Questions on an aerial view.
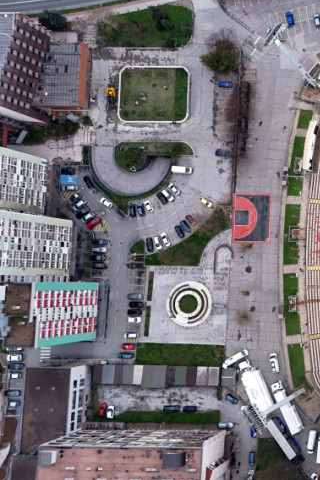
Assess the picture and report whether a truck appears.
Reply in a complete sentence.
Yes, there's a truck down there.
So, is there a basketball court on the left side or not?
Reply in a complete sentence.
No, no basketball court is visible on the left side.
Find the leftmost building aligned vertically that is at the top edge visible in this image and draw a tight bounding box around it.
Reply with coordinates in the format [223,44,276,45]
[0,13,48,124]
